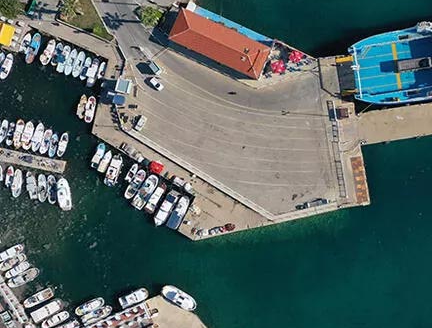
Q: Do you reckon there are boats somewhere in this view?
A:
Yes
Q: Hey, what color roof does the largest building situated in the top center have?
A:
red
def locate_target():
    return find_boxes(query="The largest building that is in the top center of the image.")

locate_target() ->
[169,7,271,79]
